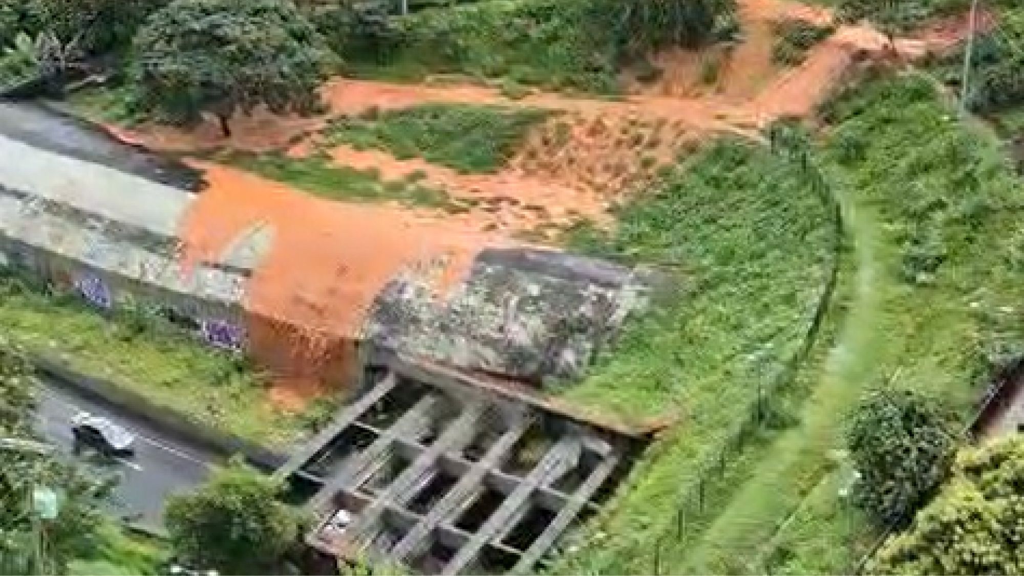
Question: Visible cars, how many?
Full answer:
My tally gives 1 car in this photo.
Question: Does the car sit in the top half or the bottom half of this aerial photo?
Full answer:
Seen from above, the car lies in the bottom half of the view.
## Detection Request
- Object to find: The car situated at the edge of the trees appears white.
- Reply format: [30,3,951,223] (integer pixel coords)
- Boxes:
[70,408,135,450]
